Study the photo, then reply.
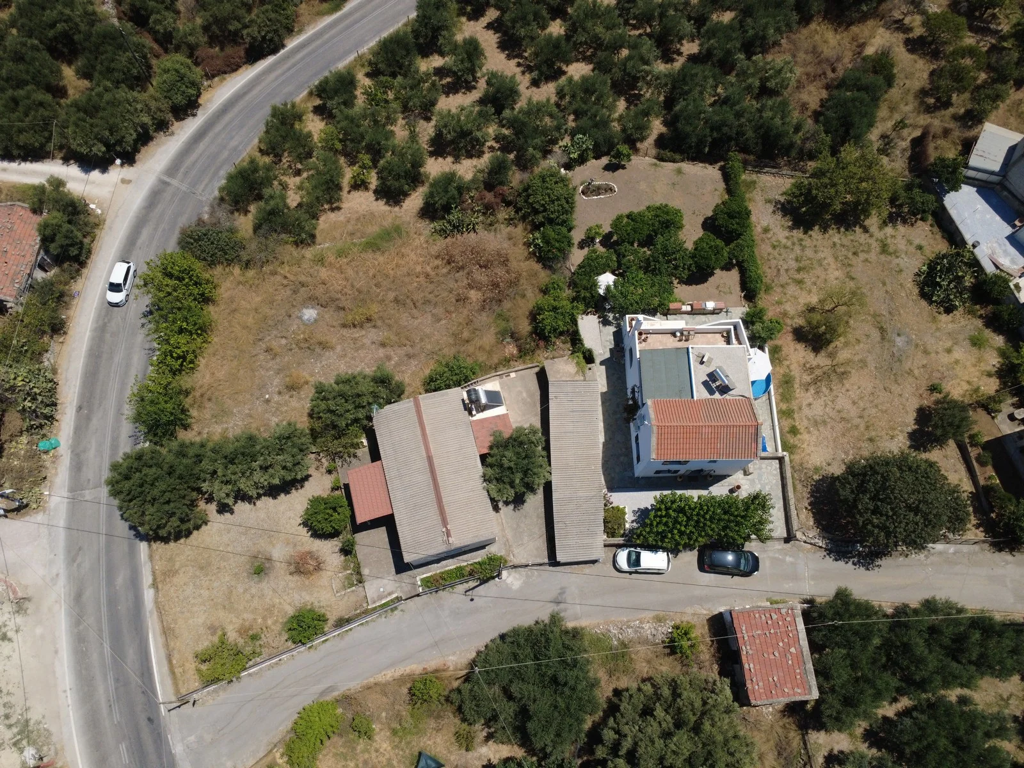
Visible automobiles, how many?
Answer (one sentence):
Altogether the scene contains 3 automobiles.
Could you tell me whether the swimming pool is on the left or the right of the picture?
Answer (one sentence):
The swimming pool sits on the right side.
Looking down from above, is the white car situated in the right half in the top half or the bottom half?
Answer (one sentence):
The bottom half of the photo is where the white car situated in the right half is.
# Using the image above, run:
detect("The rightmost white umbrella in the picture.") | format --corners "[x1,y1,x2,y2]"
[744,350,772,376]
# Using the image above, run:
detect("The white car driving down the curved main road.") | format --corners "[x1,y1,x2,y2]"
[105,260,142,308]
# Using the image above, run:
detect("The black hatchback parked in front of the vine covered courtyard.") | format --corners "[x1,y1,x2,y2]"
[697,547,759,580]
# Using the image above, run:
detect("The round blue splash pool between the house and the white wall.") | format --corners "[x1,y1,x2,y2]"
[745,371,776,401]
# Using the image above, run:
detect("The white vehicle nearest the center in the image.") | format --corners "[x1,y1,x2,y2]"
[612,545,672,577]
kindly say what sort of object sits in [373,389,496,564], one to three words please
building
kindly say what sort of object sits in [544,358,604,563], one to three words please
shed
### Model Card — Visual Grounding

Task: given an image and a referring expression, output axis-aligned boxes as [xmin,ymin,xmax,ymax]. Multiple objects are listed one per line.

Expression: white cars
[105,260,142,308]
[612,545,672,577]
